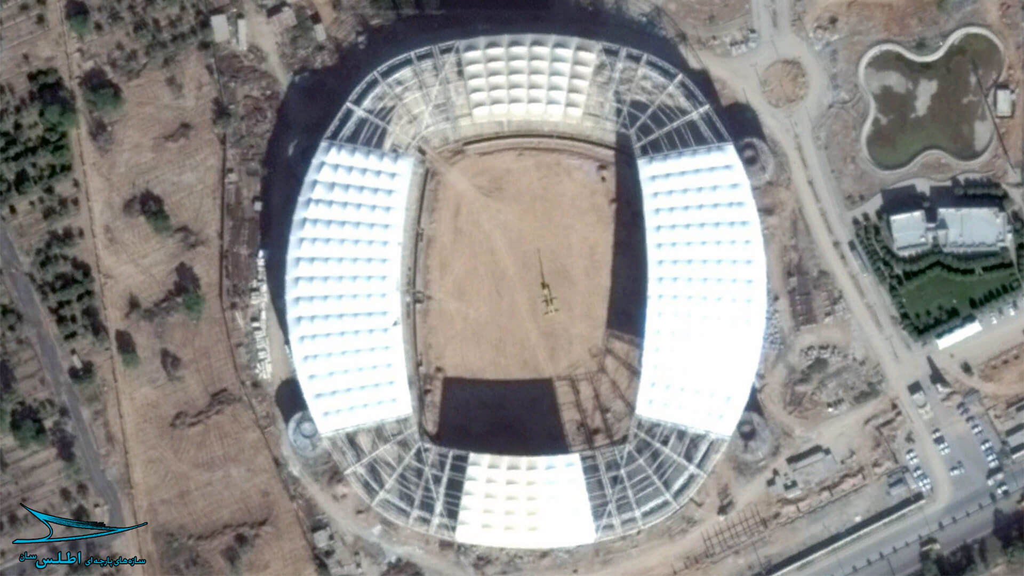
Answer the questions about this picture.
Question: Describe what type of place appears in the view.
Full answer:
The area seen from above is a sports ground.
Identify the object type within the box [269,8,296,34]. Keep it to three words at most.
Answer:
shed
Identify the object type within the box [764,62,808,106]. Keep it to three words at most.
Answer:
roundabout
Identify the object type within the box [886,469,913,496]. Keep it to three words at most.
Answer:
building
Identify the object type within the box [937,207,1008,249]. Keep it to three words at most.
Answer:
house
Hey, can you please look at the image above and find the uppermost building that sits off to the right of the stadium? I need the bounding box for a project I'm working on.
[996,89,1012,117]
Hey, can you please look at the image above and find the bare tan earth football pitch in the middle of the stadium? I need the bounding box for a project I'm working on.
[416,142,636,454]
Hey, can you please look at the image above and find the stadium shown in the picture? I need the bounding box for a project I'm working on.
[283,34,776,549]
